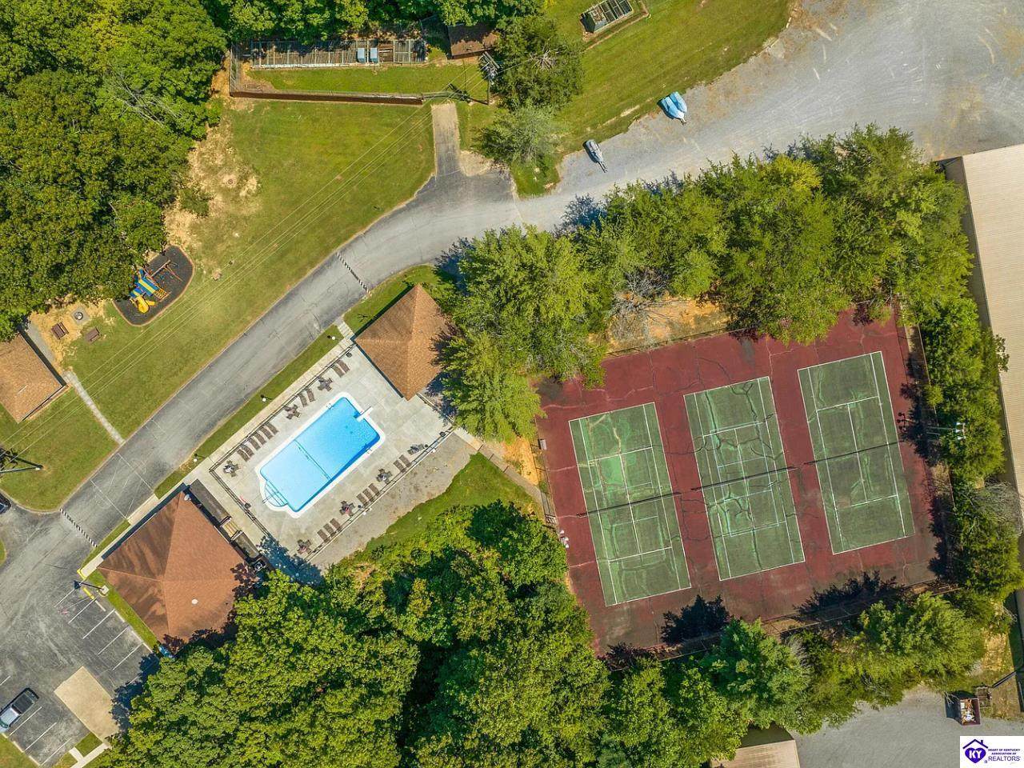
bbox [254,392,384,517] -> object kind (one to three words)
swimming pool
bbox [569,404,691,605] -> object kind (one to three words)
tennis court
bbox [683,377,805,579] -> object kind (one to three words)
tennis court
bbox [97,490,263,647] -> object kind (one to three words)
building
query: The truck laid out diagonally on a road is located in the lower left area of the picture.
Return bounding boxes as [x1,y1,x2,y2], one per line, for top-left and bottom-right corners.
[0,689,38,733]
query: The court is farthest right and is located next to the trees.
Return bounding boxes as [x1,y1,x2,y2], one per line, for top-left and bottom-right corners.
[796,352,917,553]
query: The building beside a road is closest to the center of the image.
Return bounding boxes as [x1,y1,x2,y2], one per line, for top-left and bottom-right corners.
[355,284,470,402]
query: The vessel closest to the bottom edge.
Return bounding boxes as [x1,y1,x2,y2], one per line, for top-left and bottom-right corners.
[584,140,601,164]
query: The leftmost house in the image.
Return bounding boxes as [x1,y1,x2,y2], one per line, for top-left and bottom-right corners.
[0,323,75,422]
